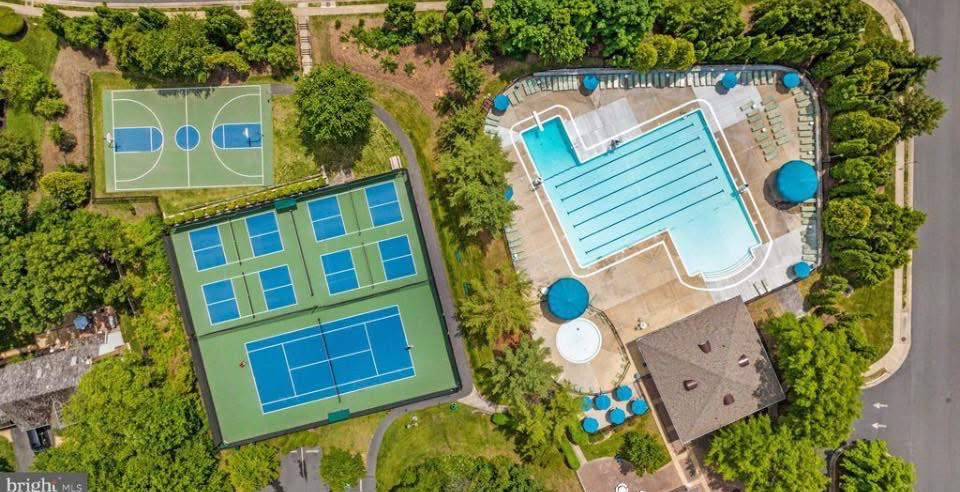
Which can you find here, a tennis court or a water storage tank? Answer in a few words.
tennis court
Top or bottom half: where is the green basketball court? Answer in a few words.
top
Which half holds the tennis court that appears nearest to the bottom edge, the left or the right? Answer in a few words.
left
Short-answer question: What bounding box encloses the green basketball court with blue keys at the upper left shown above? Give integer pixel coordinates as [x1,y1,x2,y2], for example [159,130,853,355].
[103,83,273,192]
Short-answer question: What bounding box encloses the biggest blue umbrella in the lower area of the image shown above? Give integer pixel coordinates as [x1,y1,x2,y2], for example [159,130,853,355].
[548,277,589,319]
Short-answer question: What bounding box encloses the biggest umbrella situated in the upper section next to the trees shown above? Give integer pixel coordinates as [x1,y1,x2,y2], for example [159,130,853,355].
[775,160,817,202]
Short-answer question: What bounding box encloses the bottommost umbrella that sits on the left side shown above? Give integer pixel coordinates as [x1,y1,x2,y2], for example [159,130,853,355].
[73,314,90,331]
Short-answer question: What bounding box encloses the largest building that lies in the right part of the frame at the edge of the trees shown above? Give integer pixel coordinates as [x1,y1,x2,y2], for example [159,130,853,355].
[638,295,785,442]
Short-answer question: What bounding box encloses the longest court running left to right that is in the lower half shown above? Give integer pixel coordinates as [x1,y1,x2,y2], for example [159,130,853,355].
[245,305,416,414]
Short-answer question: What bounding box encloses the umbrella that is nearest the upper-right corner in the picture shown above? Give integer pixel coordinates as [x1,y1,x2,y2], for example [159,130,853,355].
[782,71,800,89]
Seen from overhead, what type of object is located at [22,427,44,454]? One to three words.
car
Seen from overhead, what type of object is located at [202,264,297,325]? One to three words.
sports court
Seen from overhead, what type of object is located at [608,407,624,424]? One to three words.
umbrella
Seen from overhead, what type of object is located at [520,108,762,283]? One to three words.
swimming pool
